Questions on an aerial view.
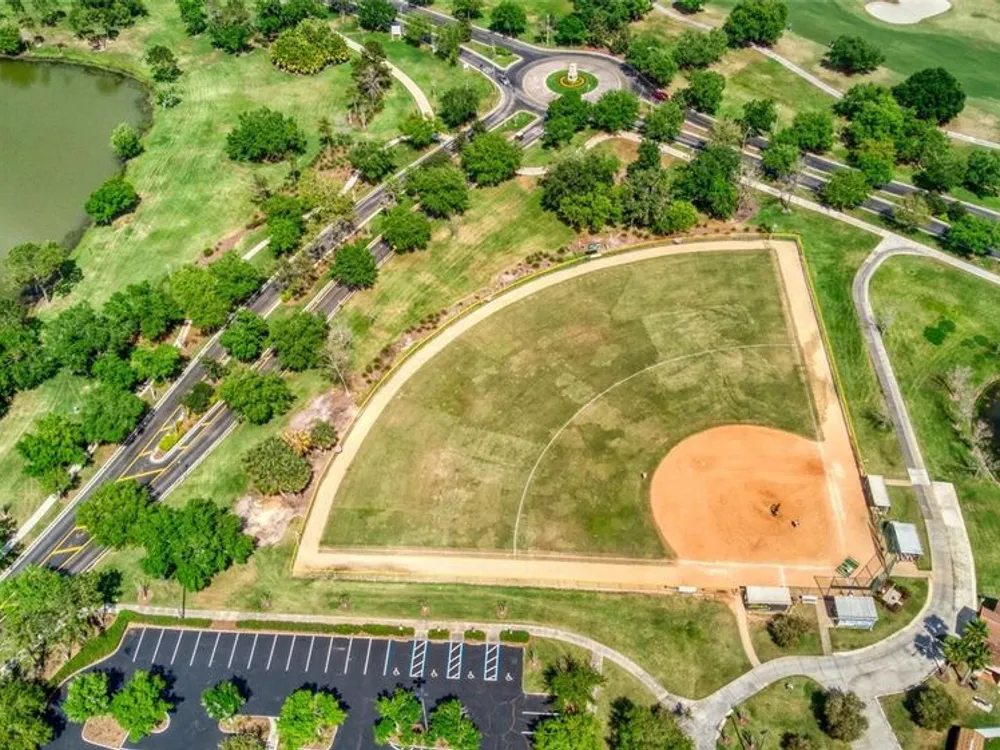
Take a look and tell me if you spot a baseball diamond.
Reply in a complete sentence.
Yes, a baseball diamond is visible in the scene.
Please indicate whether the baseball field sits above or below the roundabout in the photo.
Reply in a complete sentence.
The baseball field is found below the roundabout in the photo.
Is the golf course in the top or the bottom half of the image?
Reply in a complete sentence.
The golf course sits in the top half of the picture.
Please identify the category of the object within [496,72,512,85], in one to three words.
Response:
vehicle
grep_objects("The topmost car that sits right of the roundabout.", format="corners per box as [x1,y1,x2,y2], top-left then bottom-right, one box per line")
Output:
[650,86,670,100]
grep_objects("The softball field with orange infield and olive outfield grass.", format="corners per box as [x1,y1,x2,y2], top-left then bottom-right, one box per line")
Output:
[291,239,891,602]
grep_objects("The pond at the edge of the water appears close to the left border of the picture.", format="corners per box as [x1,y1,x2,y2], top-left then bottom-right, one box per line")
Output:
[0,60,152,307]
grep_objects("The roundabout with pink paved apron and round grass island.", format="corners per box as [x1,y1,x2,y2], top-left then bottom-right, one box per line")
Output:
[481,50,638,128]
